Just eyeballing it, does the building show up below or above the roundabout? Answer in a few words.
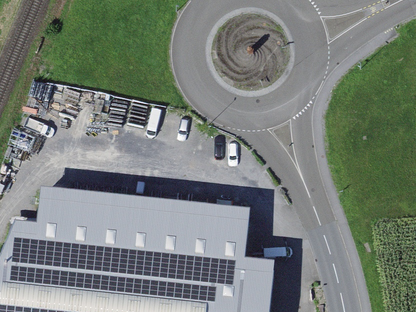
below it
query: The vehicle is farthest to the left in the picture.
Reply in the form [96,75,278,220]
[24,118,56,139]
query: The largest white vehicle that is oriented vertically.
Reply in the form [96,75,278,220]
[146,106,162,138]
